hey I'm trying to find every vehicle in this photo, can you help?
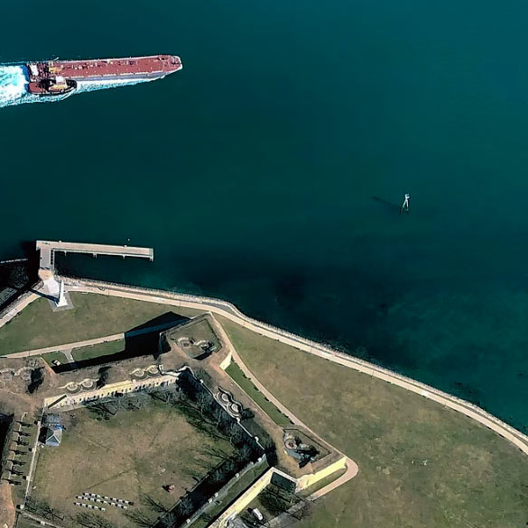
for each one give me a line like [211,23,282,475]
[249,519,261,527]
[52,359,62,365]
[252,507,263,519]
